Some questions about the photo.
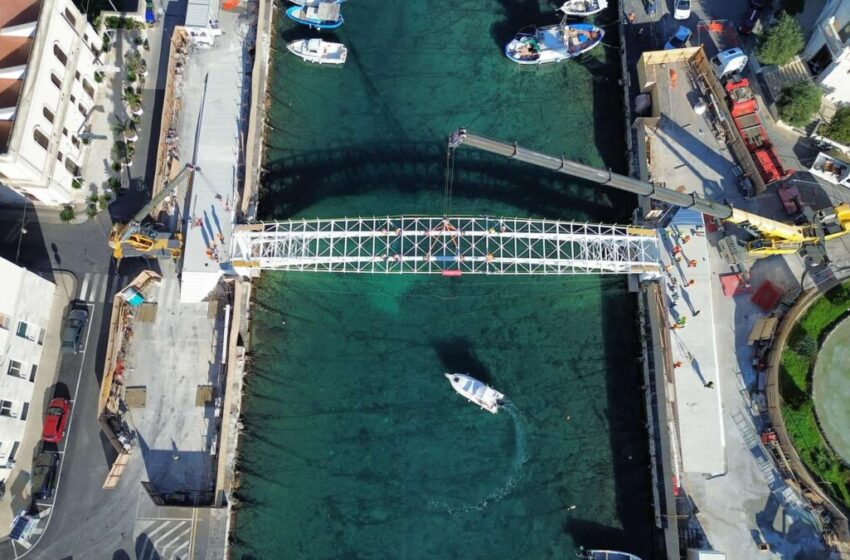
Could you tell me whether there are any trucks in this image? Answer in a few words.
Yes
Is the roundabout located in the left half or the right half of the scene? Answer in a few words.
right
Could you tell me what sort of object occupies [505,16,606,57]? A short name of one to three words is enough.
boat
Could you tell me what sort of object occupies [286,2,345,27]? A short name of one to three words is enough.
boat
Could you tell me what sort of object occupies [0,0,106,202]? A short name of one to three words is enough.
building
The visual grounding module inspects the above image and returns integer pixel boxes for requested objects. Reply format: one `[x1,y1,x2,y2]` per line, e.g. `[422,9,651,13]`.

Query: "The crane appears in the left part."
[107,163,218,273]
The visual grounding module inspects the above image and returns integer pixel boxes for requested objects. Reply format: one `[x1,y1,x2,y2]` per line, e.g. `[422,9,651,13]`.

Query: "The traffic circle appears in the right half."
[778,273,850,497]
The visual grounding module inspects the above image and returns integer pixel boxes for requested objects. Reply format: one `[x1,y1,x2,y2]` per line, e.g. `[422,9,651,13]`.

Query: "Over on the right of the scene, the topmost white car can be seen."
[672,0,693,22]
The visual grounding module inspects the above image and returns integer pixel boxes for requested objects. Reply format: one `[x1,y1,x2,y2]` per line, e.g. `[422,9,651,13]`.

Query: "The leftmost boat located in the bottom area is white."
[445,373,503,414]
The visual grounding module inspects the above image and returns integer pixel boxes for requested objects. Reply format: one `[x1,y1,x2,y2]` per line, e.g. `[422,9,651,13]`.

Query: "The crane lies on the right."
[442,126,850,285]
